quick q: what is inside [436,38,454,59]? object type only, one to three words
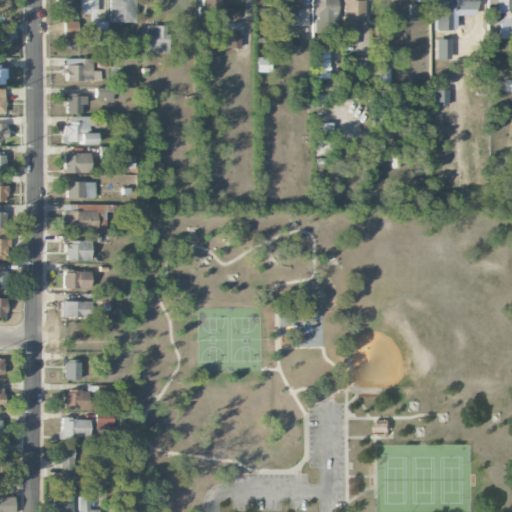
building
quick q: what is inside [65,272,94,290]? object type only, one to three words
house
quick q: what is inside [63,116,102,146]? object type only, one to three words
house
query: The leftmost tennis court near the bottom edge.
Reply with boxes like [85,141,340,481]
[378,445,410,512]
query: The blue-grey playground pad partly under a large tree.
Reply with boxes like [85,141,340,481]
[281,289,329,347]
